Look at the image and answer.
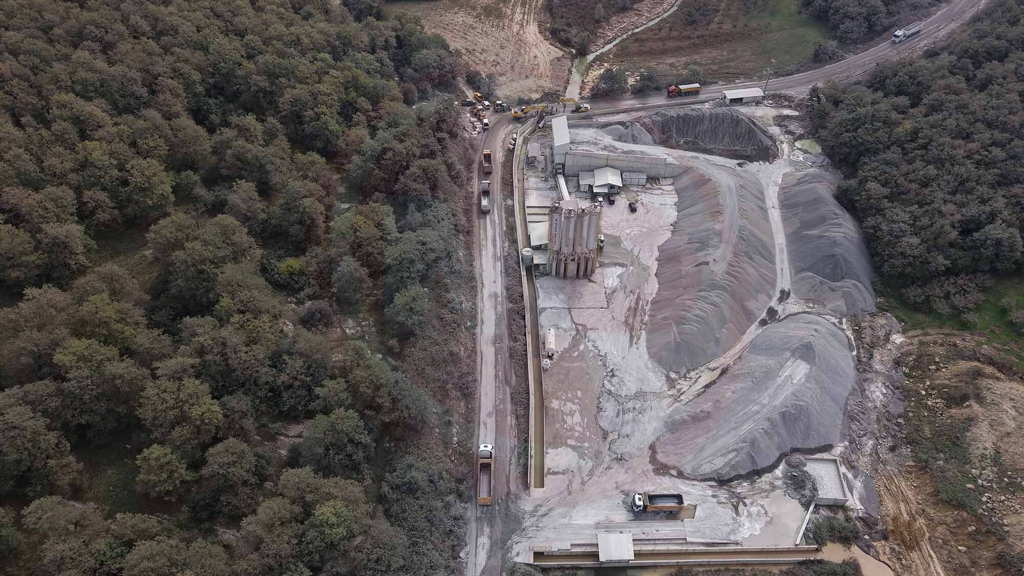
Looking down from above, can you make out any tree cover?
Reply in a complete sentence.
Yes, the picture does contain tree cover.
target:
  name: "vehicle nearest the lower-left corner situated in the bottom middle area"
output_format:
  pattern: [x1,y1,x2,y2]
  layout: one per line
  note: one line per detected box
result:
[477,445,494,506]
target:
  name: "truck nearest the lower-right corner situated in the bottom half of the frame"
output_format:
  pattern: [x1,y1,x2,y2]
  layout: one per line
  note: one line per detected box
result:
[631,495,689,518]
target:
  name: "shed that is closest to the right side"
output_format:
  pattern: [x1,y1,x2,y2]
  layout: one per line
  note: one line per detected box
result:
[722,88,764,106]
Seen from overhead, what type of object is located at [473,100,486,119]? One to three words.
vehicle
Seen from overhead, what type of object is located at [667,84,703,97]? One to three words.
vehicle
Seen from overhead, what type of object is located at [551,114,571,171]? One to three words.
shed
